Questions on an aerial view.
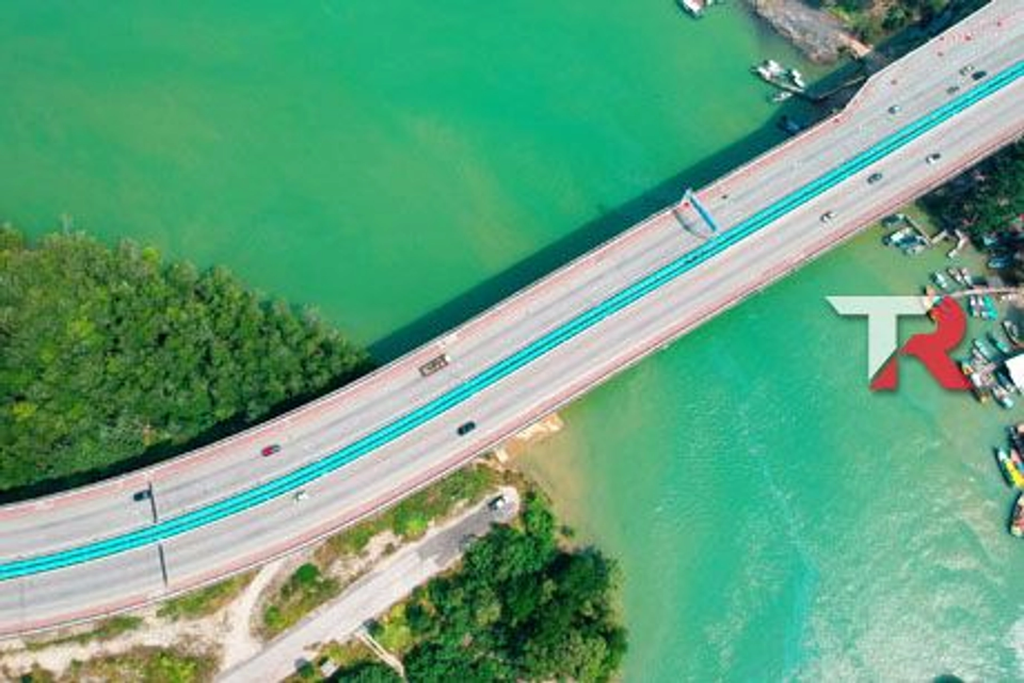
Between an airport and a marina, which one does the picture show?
marina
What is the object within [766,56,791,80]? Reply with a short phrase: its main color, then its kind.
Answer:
white boat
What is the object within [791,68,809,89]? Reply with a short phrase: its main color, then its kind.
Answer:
white boat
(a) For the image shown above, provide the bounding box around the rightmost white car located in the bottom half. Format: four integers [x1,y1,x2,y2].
[490,495,508,509]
